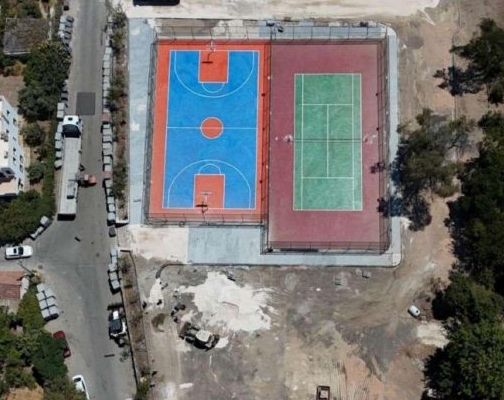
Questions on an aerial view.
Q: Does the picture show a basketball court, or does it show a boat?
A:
basketball court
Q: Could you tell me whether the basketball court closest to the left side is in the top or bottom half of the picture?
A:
top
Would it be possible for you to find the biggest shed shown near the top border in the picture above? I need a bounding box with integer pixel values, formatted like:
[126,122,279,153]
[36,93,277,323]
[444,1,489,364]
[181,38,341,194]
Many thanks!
[4,17,50,60]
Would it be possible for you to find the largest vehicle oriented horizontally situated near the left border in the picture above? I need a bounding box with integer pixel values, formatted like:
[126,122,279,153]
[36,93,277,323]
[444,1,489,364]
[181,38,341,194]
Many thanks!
[5,245,34,259]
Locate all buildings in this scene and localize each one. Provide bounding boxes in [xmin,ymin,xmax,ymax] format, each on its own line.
[0,271,33,315]
[0,94,24,200]
[4,17,50,60]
